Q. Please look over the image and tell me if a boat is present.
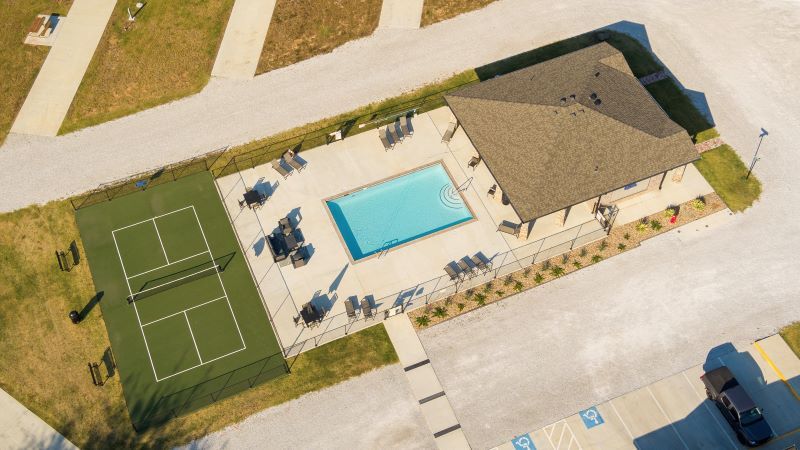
No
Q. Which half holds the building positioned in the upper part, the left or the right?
right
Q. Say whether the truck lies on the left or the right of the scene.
right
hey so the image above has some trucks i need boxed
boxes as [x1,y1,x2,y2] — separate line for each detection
[698,365,773,450]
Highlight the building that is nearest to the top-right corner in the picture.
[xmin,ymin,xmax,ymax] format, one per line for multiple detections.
[441,44,704,241]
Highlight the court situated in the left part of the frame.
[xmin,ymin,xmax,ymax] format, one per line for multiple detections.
[76,168,291,430]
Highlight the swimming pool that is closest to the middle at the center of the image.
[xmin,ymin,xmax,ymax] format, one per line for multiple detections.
[323,159,478,264]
